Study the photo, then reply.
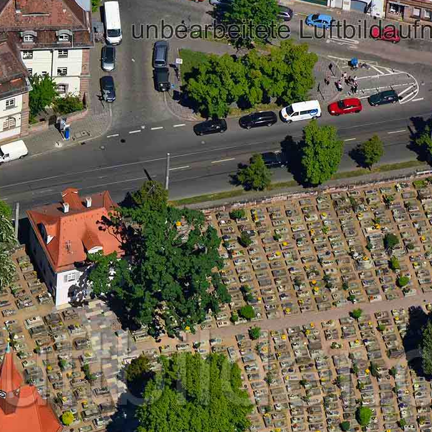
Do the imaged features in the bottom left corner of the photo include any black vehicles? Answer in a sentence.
No, no black vehicle appears in the bottom left corner of the photo.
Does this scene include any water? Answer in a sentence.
No, water can't be seen anywhere here.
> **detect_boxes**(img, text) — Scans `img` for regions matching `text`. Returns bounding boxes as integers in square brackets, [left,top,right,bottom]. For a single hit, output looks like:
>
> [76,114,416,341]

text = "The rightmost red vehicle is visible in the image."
[369,26,402,44]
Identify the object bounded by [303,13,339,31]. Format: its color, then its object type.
blue car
